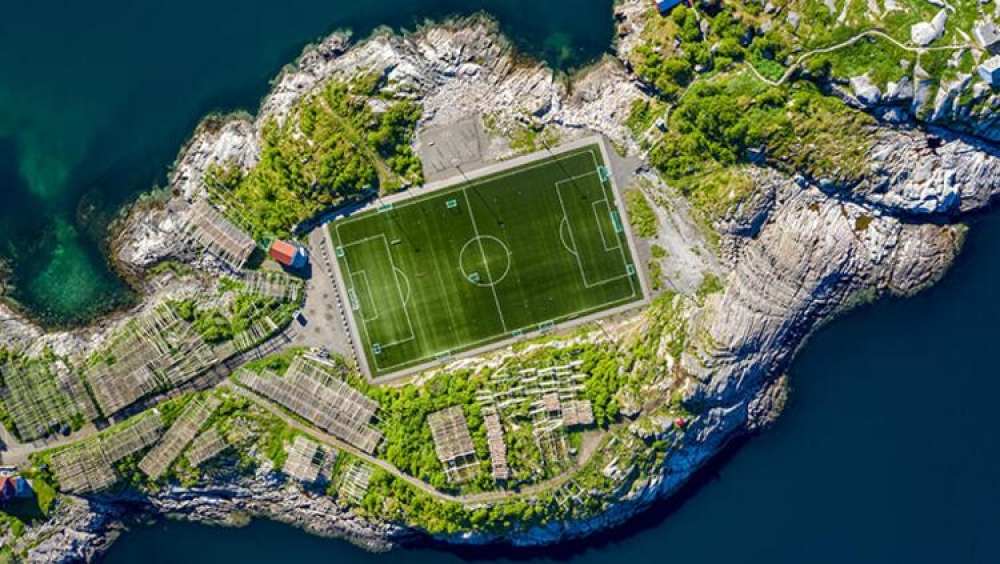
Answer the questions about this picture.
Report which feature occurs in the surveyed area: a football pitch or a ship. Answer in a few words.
football pitch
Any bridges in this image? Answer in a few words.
No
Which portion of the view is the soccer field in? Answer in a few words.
center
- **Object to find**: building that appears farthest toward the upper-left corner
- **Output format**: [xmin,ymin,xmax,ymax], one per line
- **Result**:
[266,235,304,268]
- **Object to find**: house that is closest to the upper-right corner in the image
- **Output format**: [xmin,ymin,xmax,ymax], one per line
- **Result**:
[966,12,1000,58]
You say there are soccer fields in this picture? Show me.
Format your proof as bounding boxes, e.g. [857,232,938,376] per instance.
[320,135,651,384]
